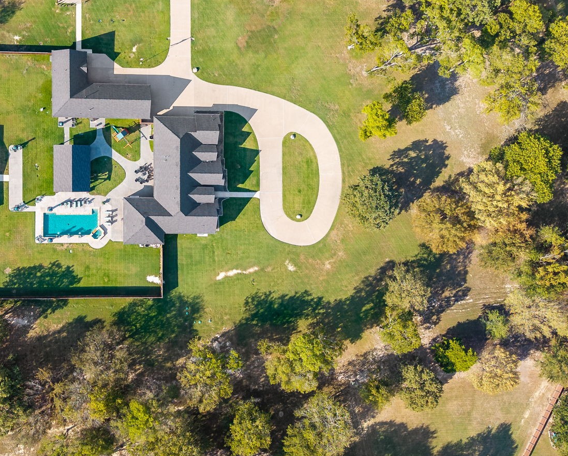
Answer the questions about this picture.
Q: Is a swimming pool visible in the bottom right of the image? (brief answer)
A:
No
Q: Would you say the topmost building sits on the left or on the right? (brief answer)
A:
left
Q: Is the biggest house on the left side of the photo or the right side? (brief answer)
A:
left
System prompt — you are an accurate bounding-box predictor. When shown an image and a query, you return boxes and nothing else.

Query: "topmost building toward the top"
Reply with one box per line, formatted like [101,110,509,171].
[52,49,151,118]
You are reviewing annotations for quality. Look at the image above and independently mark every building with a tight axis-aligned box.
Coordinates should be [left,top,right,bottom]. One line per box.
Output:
[123,115,223,244]
[53,145,90,192]
[52,49,151,118]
